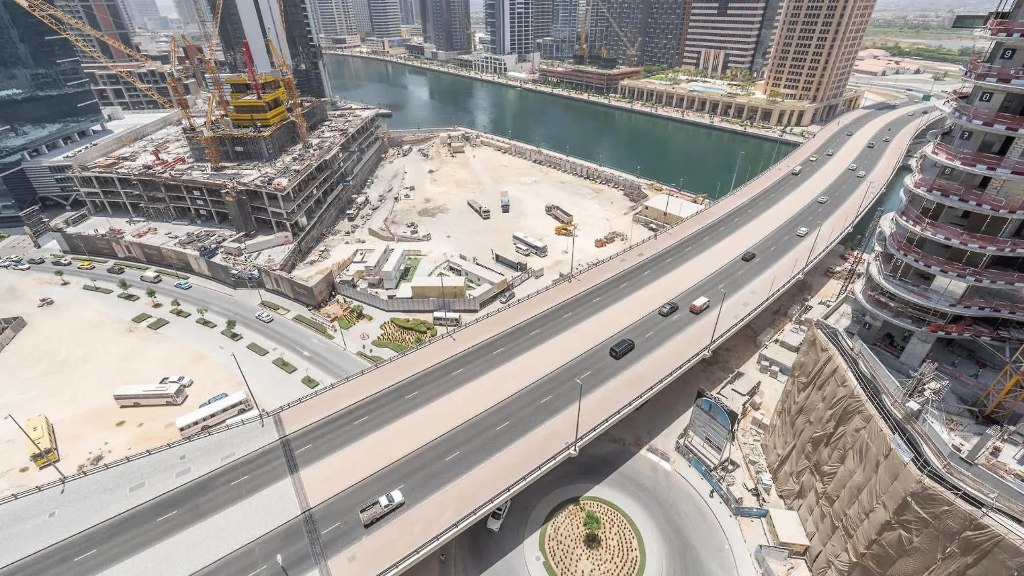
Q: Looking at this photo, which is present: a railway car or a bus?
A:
bus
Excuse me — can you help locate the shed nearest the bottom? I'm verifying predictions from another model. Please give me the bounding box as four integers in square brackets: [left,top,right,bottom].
[765,508,812,557]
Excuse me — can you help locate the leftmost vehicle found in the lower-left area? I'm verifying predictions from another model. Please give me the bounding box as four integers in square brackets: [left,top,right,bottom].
[22,415,53,463]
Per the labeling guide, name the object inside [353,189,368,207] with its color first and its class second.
white vehicle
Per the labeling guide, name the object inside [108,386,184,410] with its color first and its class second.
white bus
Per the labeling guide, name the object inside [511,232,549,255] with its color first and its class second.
white bus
